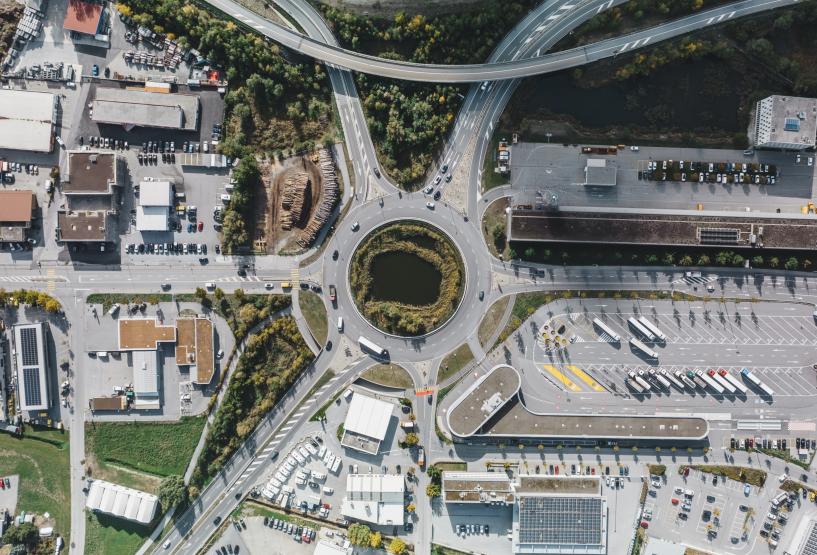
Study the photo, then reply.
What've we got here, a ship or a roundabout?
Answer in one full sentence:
The image shows a roundabout.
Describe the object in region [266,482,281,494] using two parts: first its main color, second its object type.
white vehicle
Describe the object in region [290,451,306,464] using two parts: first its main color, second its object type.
white vehicle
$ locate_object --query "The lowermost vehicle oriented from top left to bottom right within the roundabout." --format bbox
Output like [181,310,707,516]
[358,335,391,359]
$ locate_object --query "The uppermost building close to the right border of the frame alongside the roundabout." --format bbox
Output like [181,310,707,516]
[509,210,817,250]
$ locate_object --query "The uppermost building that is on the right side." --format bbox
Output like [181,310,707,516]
[756,96,817,148]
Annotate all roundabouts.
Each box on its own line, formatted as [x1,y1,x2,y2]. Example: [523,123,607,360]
[299,91,536,388]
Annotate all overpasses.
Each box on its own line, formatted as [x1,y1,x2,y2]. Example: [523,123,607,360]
[204,0,804,84]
